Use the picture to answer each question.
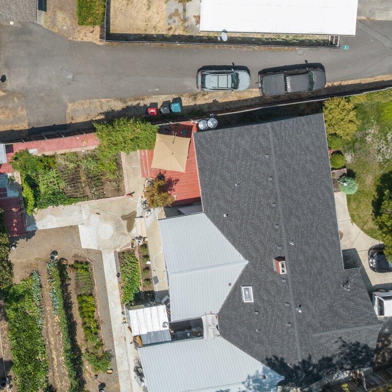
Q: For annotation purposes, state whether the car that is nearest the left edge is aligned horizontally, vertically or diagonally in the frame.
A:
horizontally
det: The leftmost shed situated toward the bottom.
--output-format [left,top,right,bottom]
[122,296,171,347]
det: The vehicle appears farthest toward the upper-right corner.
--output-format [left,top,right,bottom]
[256,67,327,96]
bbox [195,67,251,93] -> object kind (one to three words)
car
